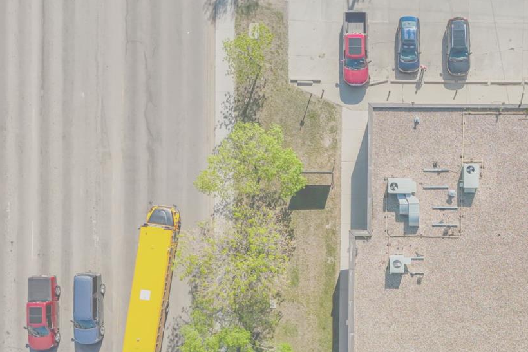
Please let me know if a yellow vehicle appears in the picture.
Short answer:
Yes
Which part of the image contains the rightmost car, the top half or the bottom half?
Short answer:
top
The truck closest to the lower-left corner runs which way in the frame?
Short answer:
from top to bottom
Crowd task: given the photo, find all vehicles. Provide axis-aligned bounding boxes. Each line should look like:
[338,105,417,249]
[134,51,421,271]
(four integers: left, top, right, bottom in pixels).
[340,11,371,87]
[393,16,422,75]
[444,17,474,77]
[25,274,62,351]
[72,273,108,343]
[122,202,187,352]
